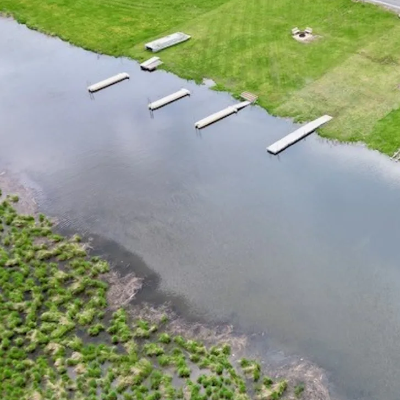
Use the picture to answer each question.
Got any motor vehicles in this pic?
No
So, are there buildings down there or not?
No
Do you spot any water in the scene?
Yes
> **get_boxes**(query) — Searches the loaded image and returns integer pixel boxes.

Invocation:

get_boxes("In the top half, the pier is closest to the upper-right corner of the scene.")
[266,116,333,157]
